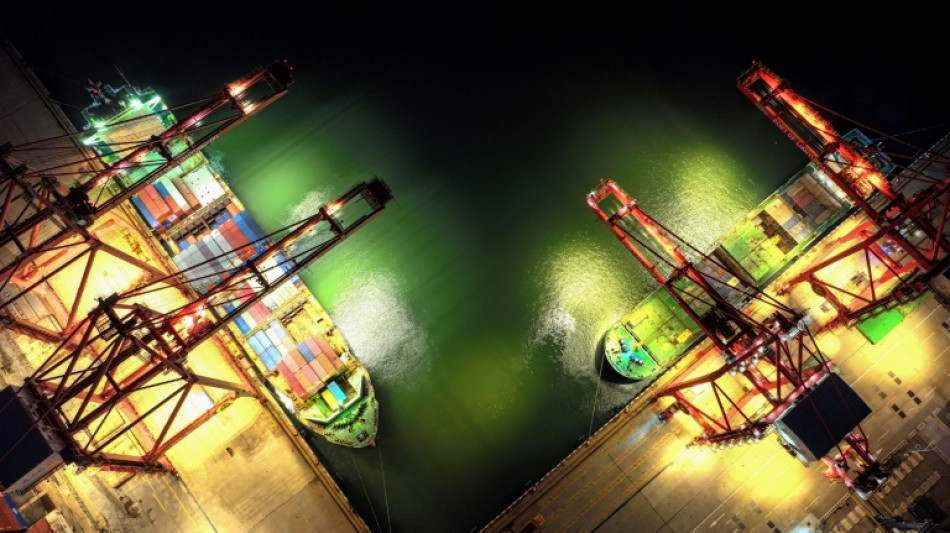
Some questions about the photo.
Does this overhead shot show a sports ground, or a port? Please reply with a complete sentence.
This image shows a port.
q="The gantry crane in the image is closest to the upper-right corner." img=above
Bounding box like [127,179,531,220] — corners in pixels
[731,56,950,333]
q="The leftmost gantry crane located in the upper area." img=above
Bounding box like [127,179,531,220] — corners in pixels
[0,55,295,355]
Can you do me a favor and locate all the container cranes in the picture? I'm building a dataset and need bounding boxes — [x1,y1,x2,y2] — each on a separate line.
[0,168,397,501]
[731,56,950,333]
[0,55,295,355]
[577,167,897,507]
